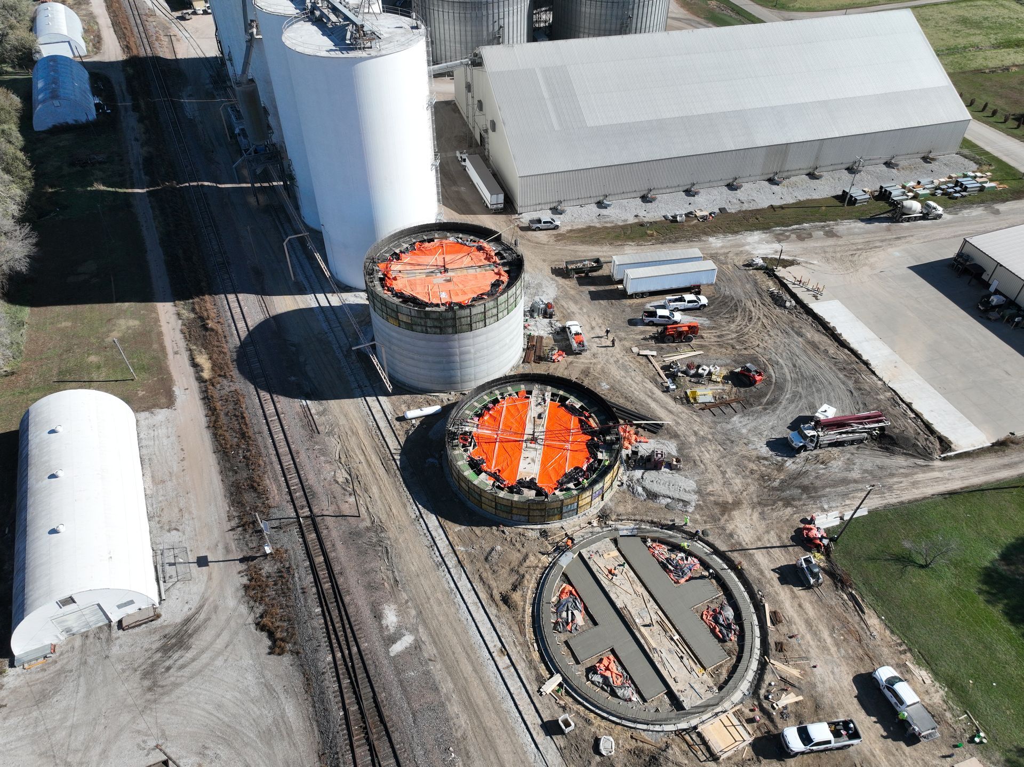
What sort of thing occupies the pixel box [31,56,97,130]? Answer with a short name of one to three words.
shed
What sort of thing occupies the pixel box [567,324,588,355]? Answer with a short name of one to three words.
truck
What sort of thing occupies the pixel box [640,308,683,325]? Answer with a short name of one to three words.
vehicle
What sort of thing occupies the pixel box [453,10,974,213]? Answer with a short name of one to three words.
building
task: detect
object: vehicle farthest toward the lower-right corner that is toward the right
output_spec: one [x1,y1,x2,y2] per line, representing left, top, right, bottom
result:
[866,661,942,744]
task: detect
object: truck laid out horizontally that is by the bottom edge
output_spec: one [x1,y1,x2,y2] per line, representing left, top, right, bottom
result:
[778,721,861,758]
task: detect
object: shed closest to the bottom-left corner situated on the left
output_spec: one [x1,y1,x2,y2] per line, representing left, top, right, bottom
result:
[5,394,162,659]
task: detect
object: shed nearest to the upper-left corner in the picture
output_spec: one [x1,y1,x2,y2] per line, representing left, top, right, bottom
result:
[38,4,99,57]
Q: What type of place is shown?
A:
industrial area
